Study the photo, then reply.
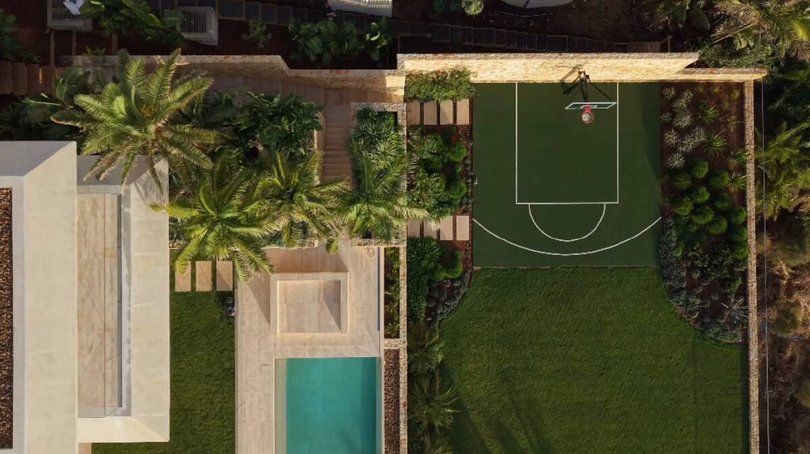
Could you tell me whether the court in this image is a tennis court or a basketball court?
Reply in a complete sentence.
It looks like the court is a basketball court.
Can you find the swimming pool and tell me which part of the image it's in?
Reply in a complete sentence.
You can find the swimming pool in the bottom area of the picture.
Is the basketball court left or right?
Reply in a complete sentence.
The basketball court sits on the right side.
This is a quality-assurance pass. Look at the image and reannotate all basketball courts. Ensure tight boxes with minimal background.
[472,81,662,267]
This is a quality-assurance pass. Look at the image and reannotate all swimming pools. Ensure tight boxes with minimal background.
[274,358,381,454]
